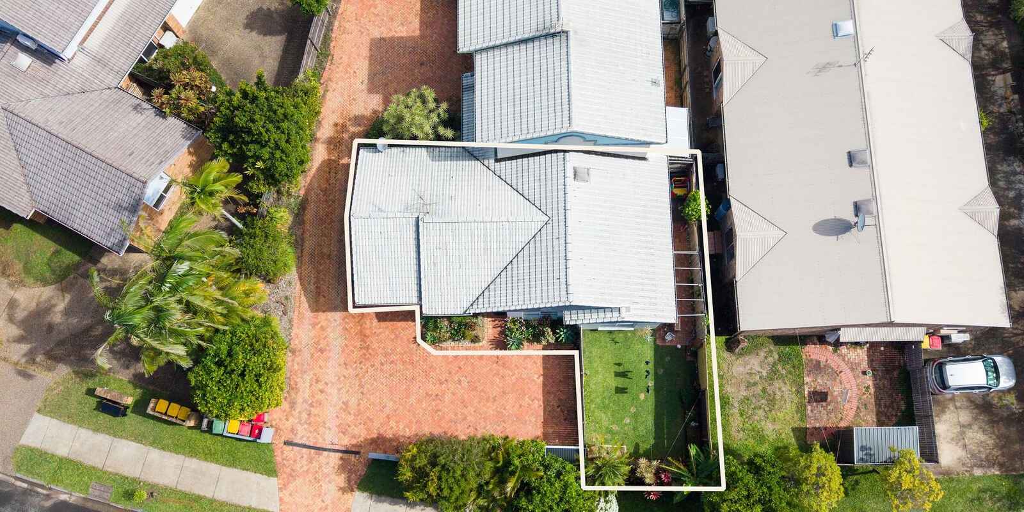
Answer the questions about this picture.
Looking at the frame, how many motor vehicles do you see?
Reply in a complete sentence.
The photo contains exactly 1 motor vehicle.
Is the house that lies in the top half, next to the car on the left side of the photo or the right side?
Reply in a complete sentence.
You can find the house that lies in the top half, next to the car on the right side of the picture.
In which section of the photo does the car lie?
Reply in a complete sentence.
The car sits in the bottom right section of the image.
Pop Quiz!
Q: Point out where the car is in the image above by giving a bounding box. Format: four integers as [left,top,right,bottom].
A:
[920,352,1016,396]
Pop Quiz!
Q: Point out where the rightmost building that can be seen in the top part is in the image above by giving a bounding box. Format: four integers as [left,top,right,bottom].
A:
[708,0,1010,345]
